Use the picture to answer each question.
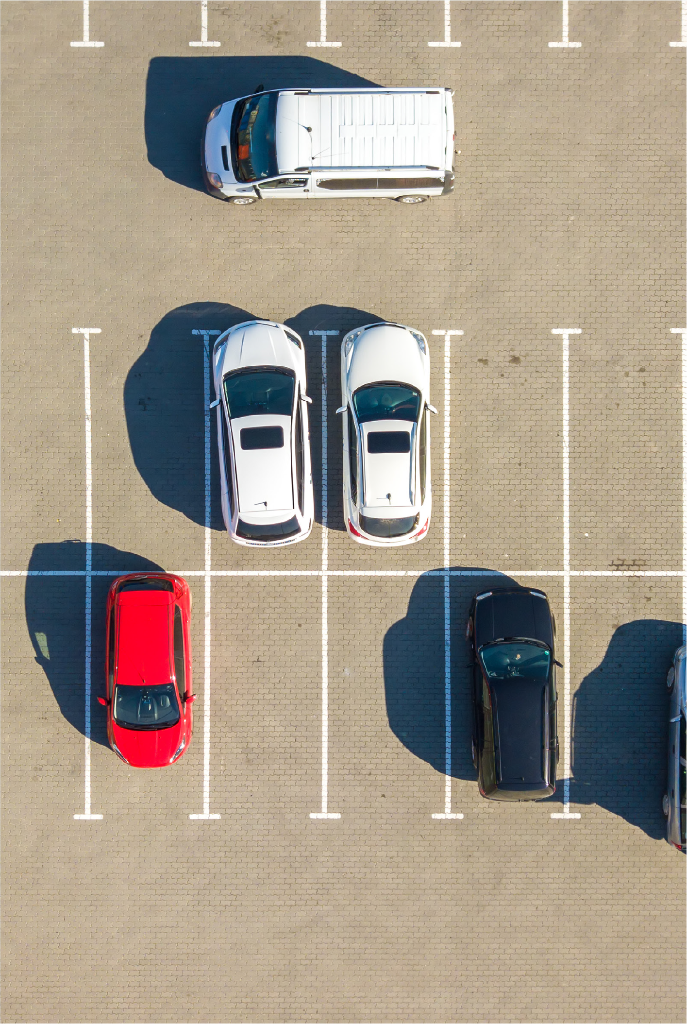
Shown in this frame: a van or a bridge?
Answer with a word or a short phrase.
van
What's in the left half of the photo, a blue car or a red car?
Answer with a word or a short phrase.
red car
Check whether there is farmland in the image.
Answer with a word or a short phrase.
No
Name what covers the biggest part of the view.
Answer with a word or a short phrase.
paved ground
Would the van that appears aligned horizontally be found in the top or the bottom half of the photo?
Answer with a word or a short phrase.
top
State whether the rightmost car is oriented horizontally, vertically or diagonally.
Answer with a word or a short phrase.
vertically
